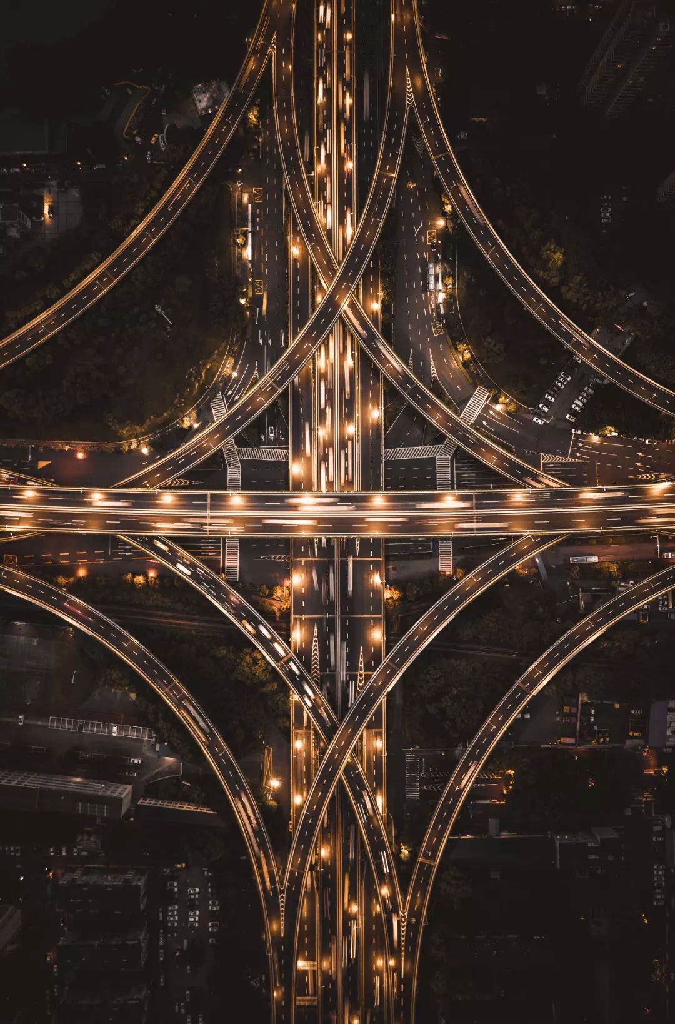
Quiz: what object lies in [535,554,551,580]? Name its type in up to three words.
vehicle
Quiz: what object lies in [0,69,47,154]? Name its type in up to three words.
building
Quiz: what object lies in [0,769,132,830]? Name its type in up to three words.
building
